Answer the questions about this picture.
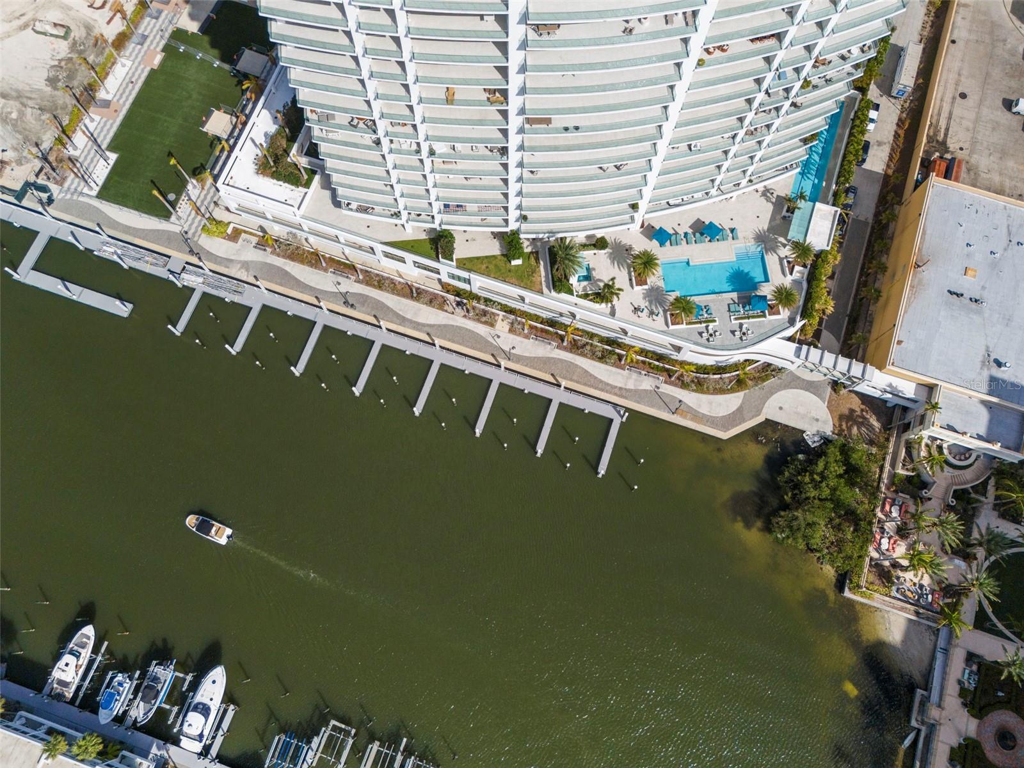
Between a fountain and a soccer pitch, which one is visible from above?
fountain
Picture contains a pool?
Yes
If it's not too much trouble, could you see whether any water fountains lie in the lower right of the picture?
Yes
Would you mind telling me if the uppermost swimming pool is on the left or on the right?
right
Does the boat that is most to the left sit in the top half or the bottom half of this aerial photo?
bottom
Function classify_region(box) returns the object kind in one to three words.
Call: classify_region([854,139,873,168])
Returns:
car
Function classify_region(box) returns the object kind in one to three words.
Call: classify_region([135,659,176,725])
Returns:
boat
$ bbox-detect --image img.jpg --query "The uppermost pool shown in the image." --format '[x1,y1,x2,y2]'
[788,98,844,240]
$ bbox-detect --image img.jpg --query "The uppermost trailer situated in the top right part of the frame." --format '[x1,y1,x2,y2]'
[890,41,923,98]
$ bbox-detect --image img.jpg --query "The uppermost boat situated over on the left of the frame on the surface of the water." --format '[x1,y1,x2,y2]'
[186,516,234,545]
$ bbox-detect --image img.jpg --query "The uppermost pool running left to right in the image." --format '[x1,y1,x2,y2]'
[657,239,775,300]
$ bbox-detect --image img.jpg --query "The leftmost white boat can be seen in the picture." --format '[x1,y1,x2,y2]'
[48,625,97,706]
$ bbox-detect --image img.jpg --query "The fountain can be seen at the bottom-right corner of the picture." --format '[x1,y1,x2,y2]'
[993,728,1019,754]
